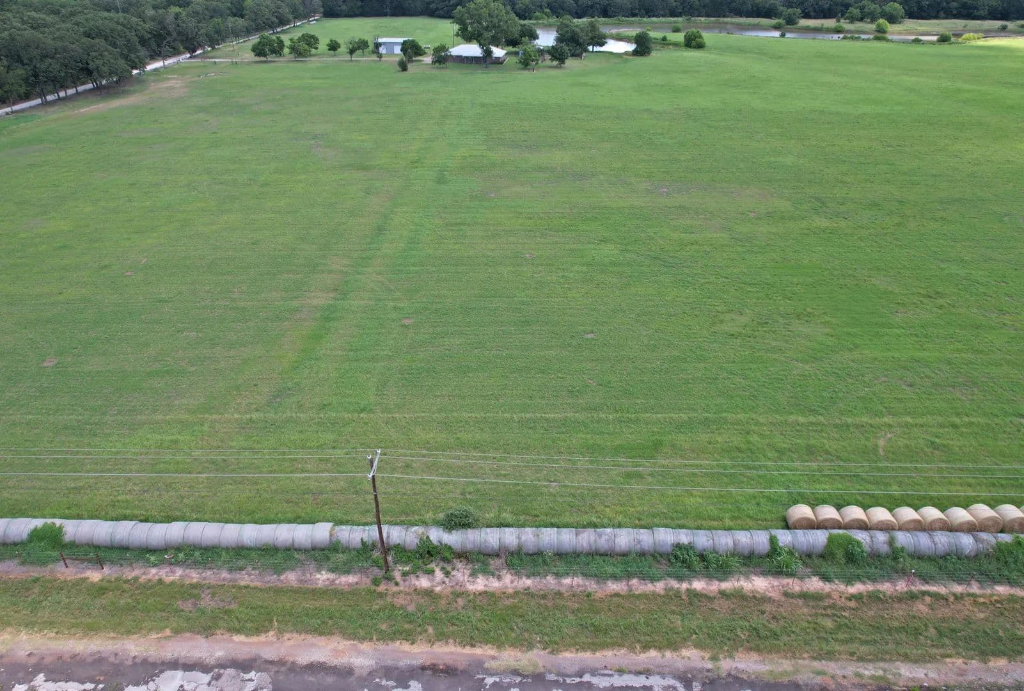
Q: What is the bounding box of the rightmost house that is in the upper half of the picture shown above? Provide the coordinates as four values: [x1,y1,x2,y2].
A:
[449,43,506,67]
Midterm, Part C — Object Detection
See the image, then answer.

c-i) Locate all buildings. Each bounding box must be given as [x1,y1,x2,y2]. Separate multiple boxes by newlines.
[449,43,506,67]
[377,39,412,54]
